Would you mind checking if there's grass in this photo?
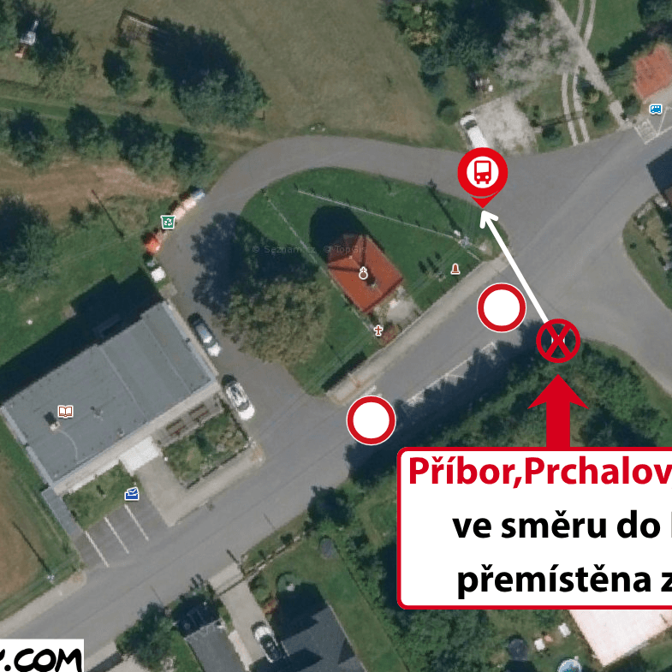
Yes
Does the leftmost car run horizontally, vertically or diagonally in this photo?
diagonally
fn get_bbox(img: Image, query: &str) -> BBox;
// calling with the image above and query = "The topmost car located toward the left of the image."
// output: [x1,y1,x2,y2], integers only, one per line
[185,312,224,359]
